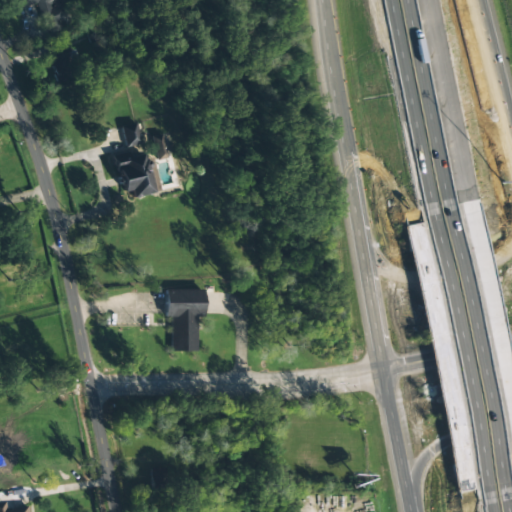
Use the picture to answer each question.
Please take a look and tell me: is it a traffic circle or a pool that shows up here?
pool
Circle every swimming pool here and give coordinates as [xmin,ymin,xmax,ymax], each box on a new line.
[154,152,182,192]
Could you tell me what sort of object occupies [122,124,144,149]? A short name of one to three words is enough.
building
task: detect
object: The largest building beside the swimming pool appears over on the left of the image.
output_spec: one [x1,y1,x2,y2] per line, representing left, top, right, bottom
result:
[115,153,157,194]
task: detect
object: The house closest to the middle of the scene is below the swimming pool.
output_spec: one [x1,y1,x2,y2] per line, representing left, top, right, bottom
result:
[168,290,209,350]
